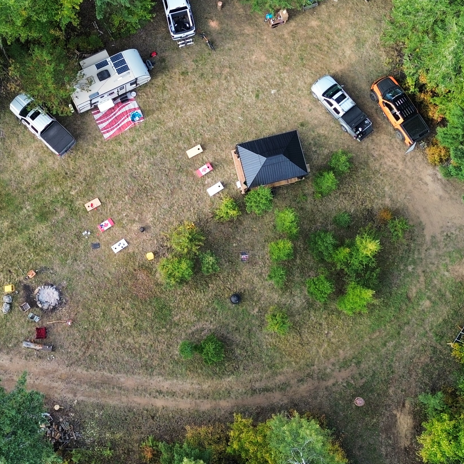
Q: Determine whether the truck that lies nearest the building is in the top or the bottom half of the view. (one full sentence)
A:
The truck that lies nearest the building is in the top half of the image.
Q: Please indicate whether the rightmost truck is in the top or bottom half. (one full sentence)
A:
The top half of the photo is where the rightmost truck is.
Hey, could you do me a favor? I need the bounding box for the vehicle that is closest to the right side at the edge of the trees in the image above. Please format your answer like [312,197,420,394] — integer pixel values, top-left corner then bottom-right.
[370,78,431,147]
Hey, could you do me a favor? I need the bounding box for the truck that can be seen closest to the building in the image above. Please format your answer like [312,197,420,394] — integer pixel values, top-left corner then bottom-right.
[310,78,373,143]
